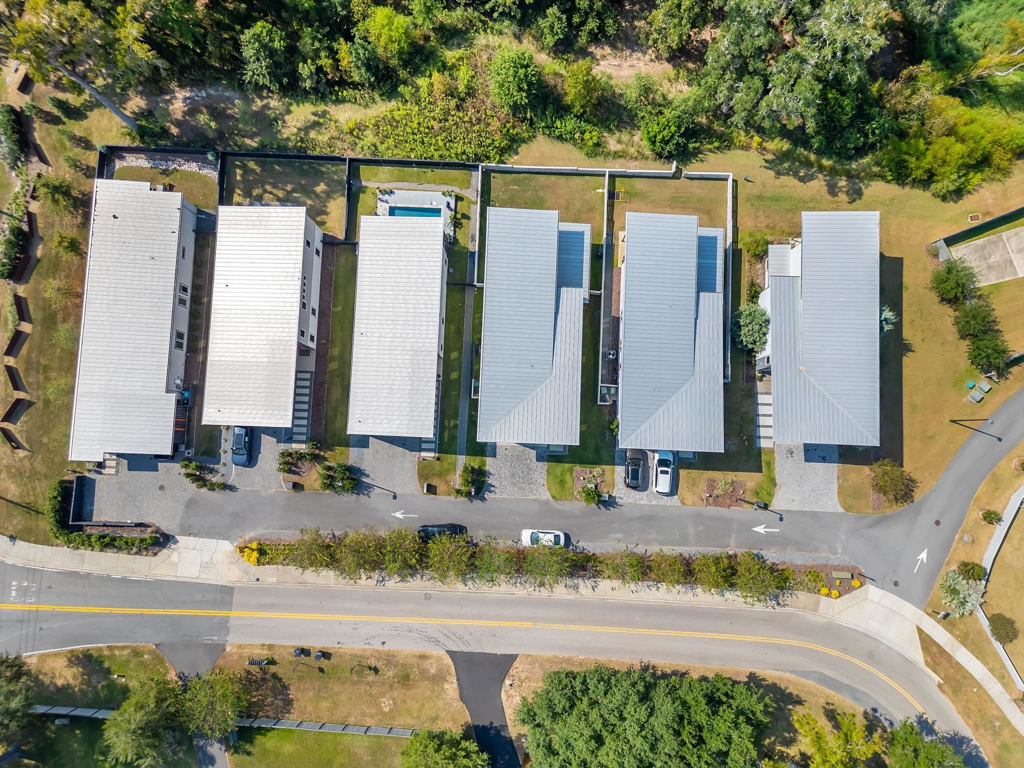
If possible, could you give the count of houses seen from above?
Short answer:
6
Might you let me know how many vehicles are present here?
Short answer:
5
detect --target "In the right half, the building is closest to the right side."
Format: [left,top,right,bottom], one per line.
[756,210,882,447]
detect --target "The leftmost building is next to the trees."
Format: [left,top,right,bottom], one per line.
[65,179,196,461]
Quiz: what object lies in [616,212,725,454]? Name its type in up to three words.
house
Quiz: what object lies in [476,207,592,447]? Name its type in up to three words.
house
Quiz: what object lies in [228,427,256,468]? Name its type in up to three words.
car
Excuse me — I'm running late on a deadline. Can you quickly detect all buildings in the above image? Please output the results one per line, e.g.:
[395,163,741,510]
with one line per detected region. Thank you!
[616,212,725,454]
[346,215,448,440]
[476,207,592,447]
[200,206,323,428]
[756,210,882,447]
[65,179,196,461]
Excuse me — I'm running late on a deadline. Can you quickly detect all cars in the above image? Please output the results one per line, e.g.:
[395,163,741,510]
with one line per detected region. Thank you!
[417,522,468,545]
[622,450,644,491]
[650,451,674,495]
[228,427,256,468]
[520,526,565,549]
